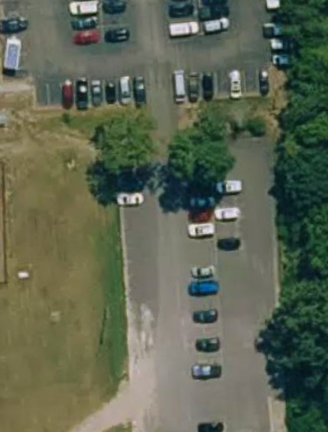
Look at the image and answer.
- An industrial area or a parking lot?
parking lot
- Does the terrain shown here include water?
No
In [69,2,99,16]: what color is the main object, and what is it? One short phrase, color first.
white vehicle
